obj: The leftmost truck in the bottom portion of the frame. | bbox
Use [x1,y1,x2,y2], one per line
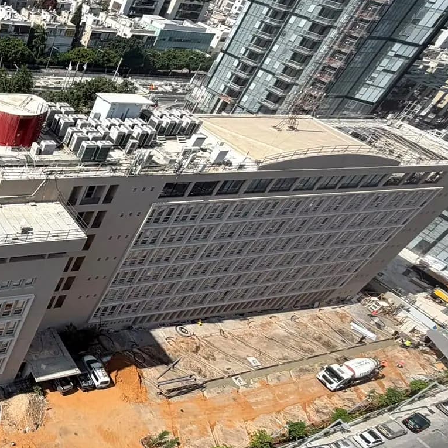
[56,376,79,400]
